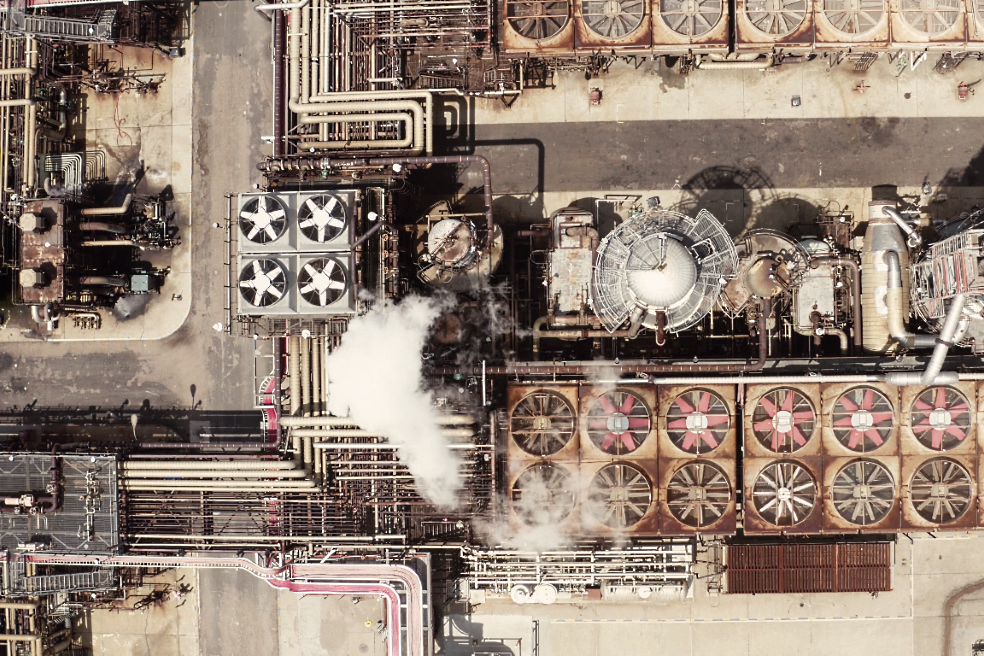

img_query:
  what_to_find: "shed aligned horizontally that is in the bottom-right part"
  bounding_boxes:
[719,534,895,594]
